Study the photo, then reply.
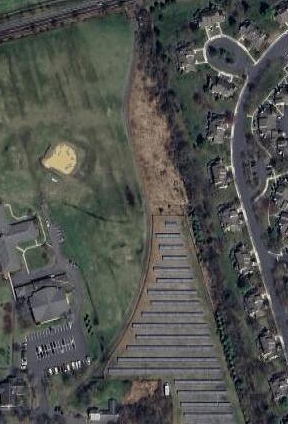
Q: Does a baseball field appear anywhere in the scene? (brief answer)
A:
Yes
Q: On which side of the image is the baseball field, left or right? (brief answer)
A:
left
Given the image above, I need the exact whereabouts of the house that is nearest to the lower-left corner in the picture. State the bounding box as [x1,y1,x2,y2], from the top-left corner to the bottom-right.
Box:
[0,381,24,408]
